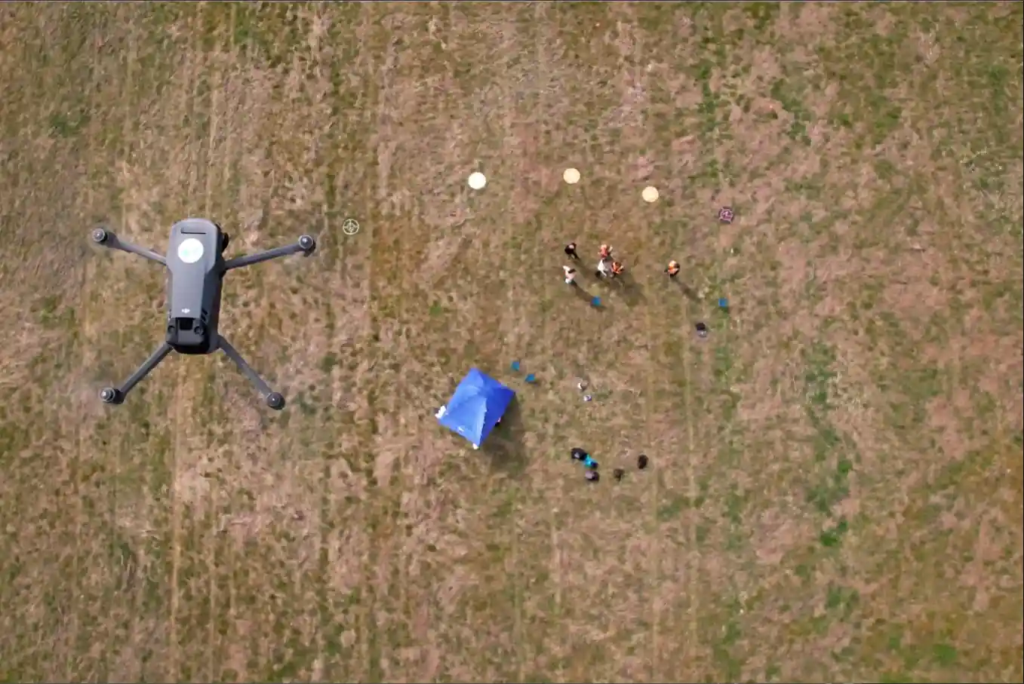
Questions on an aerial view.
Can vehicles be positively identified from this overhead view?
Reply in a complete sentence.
No, there's no vehicle here.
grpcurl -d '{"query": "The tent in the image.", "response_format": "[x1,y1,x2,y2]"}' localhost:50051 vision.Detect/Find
[438,368,516,450]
